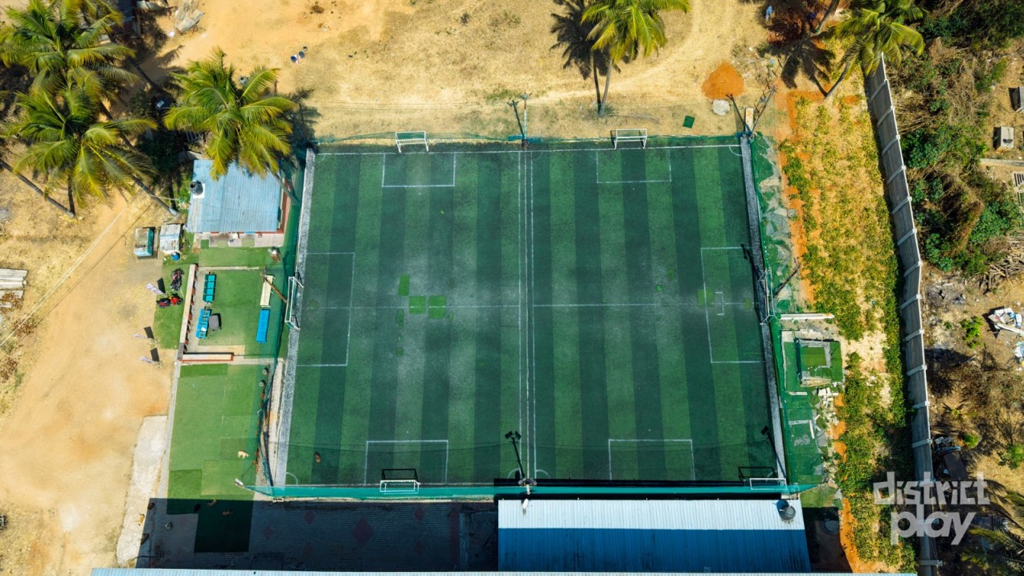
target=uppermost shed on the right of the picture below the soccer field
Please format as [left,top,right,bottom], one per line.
[498,498,806,572]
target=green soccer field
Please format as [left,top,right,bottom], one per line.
[285,138,775,489]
